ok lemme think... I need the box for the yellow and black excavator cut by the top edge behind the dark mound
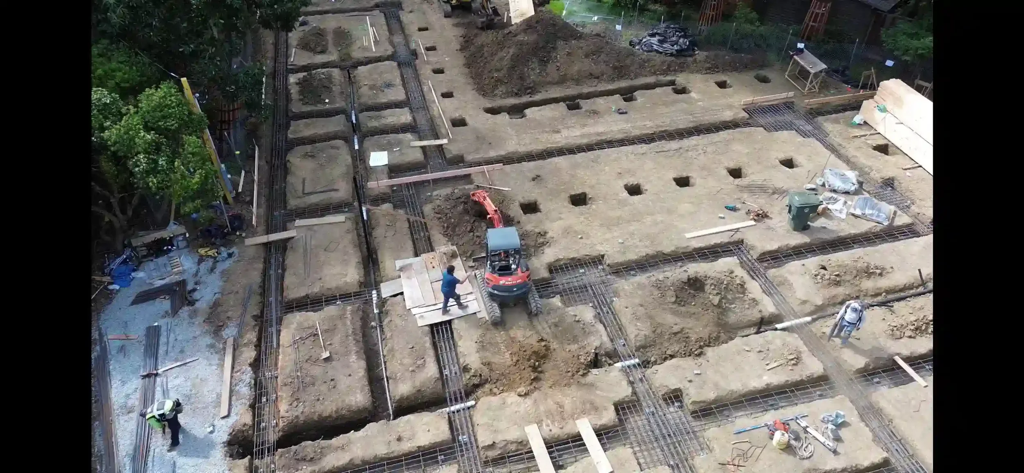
[438,0,498,35]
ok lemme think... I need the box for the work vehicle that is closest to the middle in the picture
[470,187,543,320]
